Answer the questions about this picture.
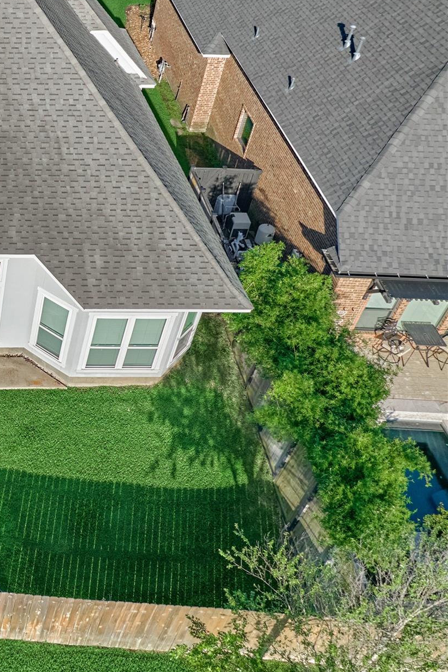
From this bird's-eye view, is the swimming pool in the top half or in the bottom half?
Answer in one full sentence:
You can find the swimming pool in the bottom half.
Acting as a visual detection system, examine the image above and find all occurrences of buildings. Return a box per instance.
[141,0,448,331]
[0,0,254,385]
